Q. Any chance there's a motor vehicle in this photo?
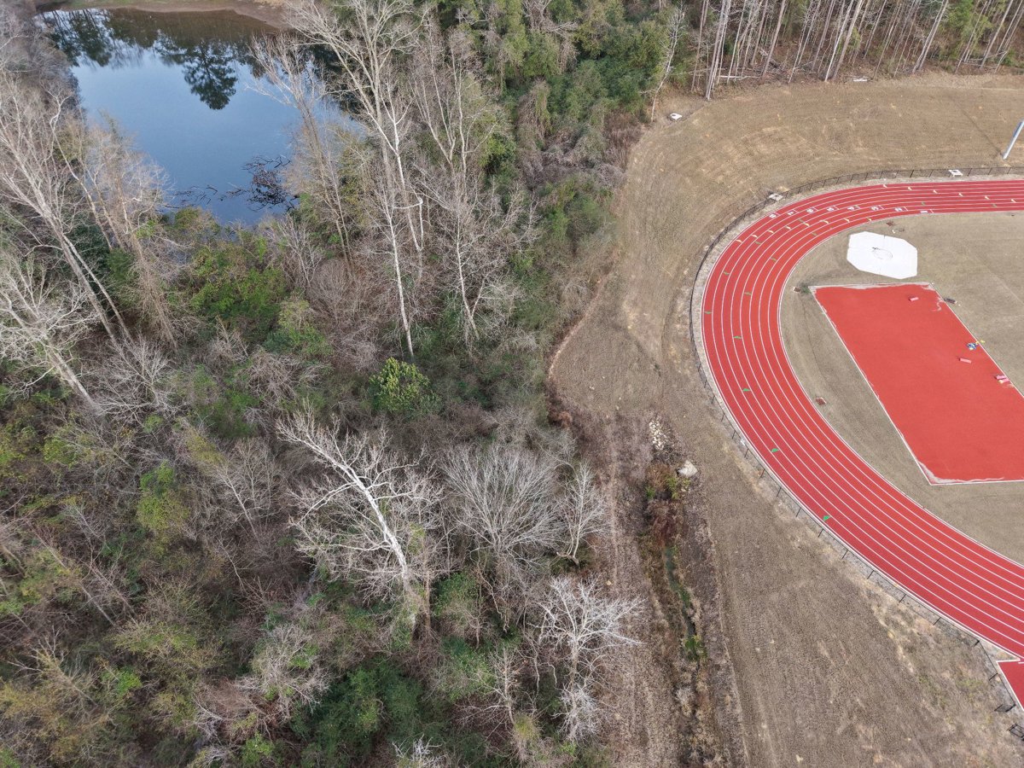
No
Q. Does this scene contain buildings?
No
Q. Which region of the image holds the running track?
right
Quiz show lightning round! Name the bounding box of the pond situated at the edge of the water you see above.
[36,7,379,234]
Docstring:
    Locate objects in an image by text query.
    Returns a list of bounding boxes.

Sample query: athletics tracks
[698,178,1024,660]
